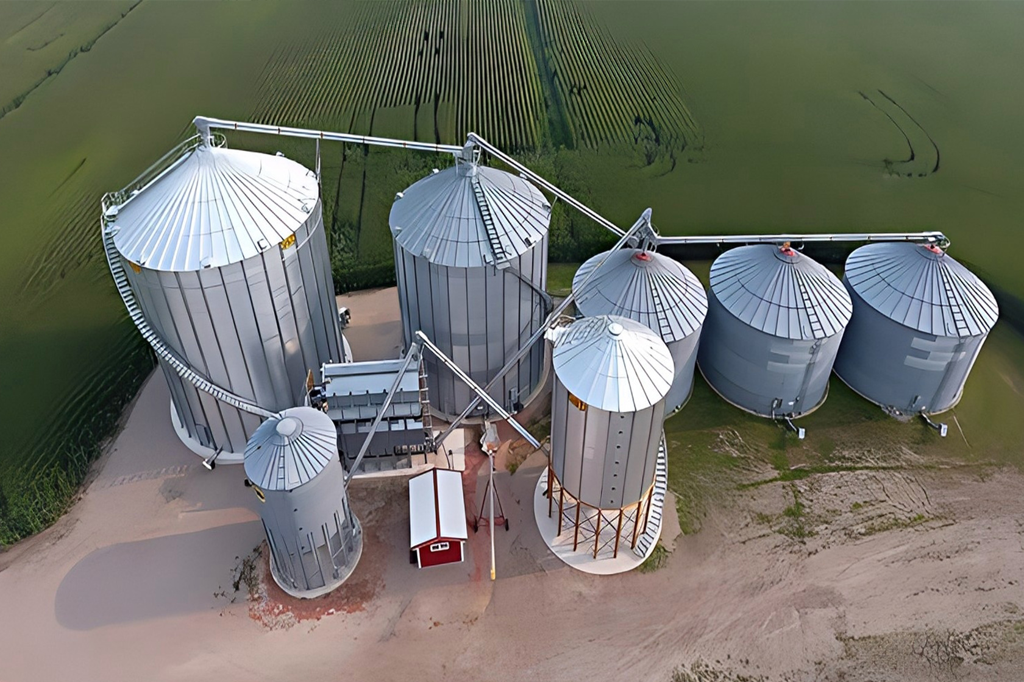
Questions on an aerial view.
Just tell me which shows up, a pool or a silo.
silo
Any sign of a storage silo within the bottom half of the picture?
Yes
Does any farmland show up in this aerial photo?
Yes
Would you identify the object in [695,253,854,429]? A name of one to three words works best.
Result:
silo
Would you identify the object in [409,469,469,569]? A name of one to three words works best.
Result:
shed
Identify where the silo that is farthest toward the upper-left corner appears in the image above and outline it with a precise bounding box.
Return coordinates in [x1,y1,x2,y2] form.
[94,131,354,463]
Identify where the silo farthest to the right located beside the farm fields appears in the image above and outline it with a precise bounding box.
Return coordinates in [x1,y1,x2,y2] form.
[831,252,1000,430]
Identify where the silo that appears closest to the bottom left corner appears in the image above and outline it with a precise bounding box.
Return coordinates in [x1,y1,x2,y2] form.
[242,418,365,597]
